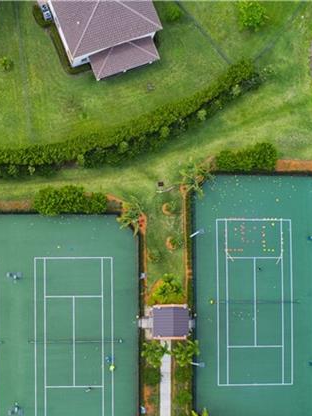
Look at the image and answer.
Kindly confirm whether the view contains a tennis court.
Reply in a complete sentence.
Yes, there's a tennis court down there.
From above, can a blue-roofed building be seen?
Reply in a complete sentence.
No, there isn't any blue-roofed building down there.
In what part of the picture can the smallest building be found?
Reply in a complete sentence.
The smallest building is located in the bottom region of the scene.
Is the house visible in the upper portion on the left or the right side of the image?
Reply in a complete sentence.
The house visible in the upper portion sits on the left side.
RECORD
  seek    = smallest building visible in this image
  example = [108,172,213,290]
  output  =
[149,304,189,341]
